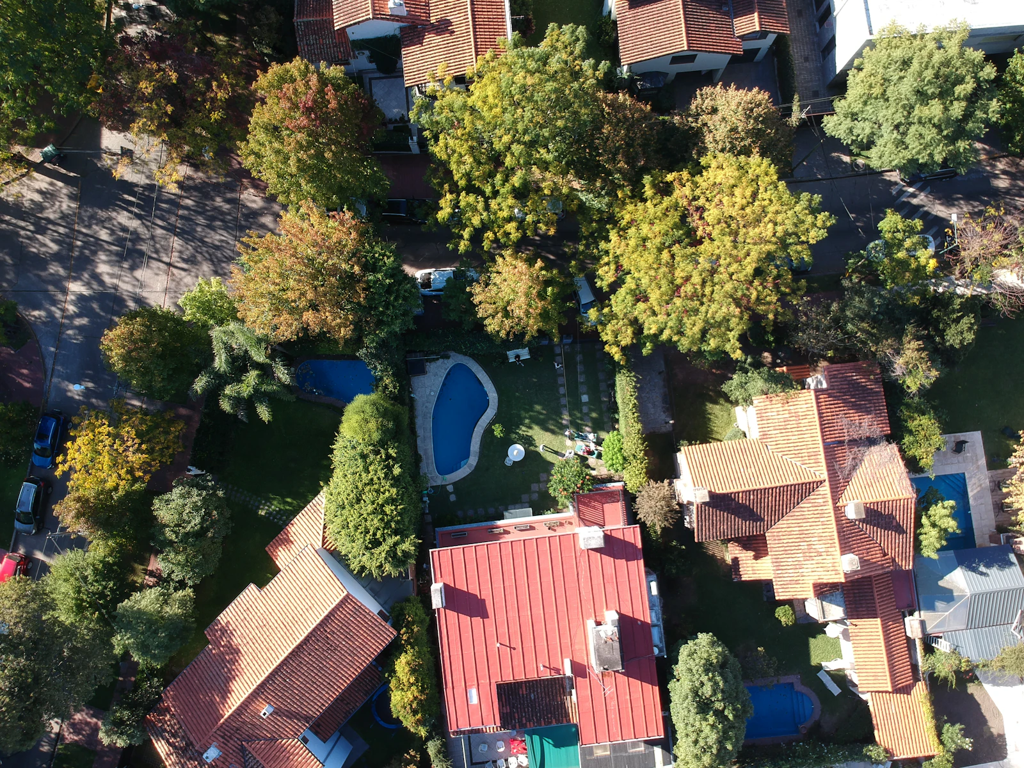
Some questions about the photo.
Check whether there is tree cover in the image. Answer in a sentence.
Yes, tree cover can be seen from above here.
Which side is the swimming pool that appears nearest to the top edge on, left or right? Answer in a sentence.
It is on the left.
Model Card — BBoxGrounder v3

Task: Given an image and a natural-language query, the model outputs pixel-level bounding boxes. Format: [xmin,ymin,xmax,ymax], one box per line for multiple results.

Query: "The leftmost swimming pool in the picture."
[288,352,384,409]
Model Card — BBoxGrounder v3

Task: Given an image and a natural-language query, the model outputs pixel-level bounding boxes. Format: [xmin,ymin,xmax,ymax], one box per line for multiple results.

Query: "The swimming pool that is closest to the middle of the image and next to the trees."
[415,352,498,484]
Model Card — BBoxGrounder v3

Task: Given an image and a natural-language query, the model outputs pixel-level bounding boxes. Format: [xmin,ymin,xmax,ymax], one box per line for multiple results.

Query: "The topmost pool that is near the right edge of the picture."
[900,431,994,545]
